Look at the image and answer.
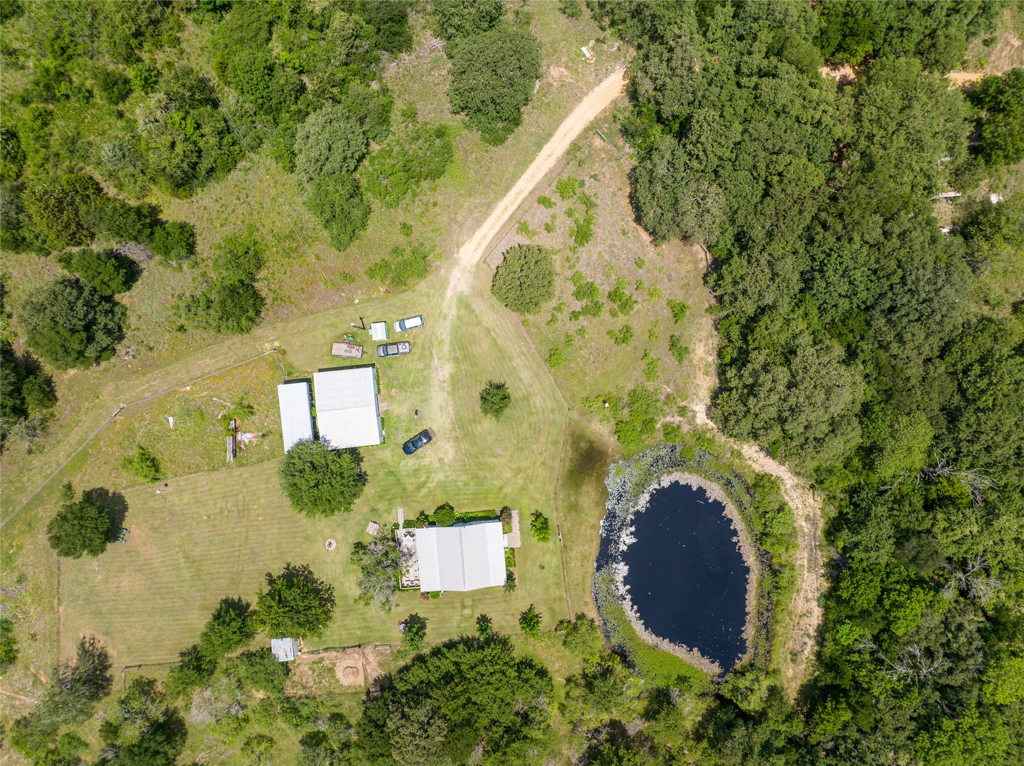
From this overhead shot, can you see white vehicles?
Yes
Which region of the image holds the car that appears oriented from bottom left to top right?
center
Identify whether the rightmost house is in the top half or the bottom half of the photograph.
bottom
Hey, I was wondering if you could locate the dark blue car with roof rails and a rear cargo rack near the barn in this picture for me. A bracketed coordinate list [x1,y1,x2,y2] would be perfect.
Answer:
[403,427,438,455]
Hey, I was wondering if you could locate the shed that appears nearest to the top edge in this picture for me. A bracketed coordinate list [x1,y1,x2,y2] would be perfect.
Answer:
[371,322,390,341]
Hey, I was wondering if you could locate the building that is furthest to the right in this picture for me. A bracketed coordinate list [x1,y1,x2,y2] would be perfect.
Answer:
[415,521,506,592]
